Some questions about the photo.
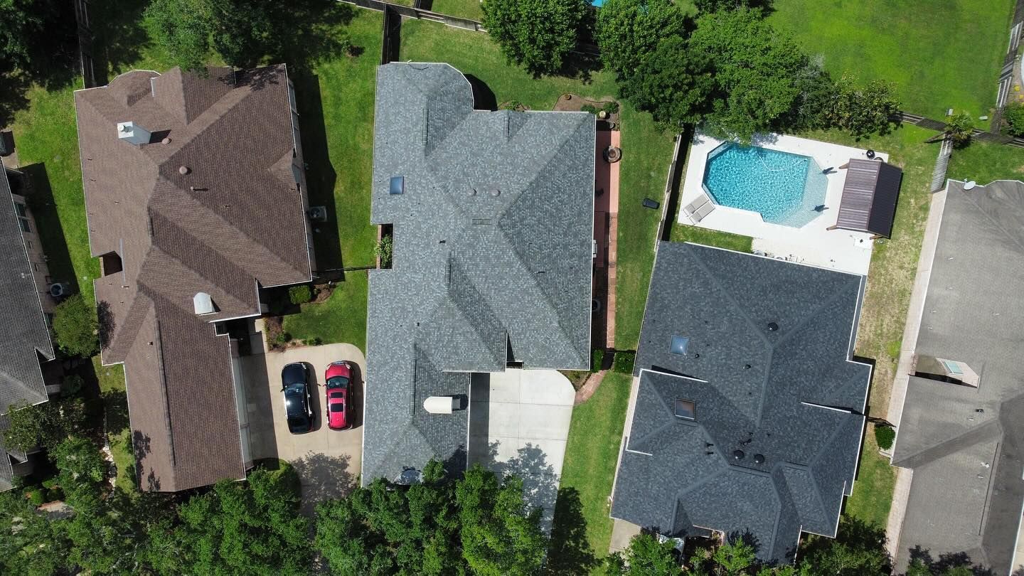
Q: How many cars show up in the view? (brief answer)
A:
two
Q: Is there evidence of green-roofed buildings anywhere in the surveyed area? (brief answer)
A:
No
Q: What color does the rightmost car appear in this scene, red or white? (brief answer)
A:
red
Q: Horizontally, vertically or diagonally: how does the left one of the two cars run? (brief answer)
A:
vertically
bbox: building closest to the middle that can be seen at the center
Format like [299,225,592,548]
[361,62,596,490]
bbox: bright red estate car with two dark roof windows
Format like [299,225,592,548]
[323,362,356,429]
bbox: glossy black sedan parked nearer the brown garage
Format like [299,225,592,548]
[279,363,317,434]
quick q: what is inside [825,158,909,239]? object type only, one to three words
building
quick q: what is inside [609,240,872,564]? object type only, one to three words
house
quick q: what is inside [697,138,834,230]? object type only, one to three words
swimming pool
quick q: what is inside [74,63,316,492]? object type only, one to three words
house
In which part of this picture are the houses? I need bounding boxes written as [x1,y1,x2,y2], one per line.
[0,160,71,495]
[361,62,596,490]
[877,179,1024,576]
[609,240,872,564]
[74,63,316,492]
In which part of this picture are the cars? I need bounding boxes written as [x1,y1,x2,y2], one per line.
[323,362,356,429]
[279,363,317,434]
